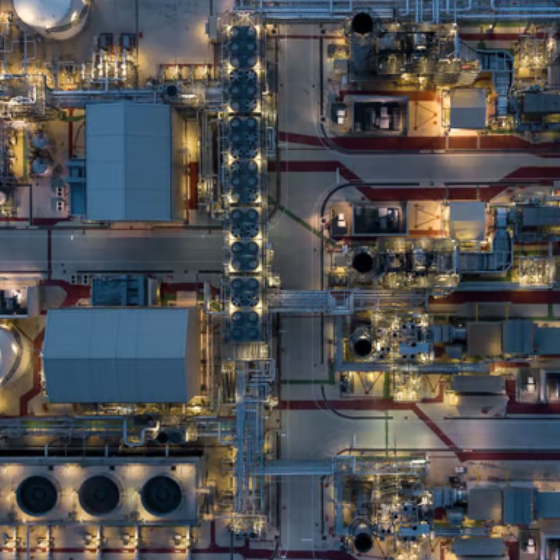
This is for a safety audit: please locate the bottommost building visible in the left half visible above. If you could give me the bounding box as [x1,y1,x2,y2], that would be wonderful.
[40,309,203,408]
